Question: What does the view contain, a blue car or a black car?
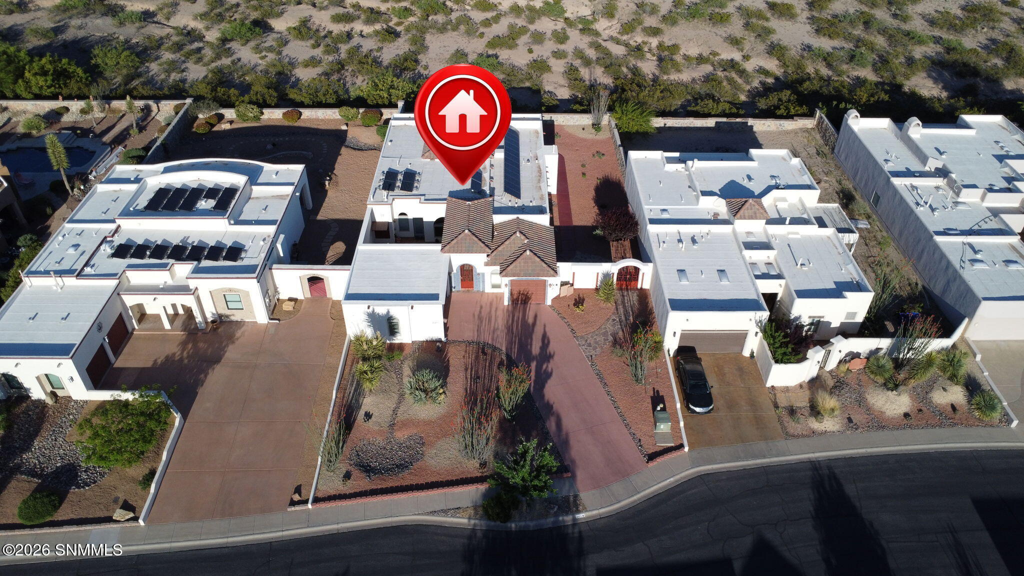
black car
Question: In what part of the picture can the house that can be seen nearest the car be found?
right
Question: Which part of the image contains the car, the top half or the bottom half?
bottom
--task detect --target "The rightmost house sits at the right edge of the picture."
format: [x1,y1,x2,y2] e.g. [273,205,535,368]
[839,109,1024,340]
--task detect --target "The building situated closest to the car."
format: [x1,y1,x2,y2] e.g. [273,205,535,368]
[626,150,873,356]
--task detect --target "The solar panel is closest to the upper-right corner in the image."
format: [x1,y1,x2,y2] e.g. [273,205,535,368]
[503,124,521,200]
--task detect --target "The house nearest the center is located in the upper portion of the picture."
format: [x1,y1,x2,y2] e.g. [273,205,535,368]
[342,114,559,343]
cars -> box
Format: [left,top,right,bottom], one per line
[678,352,714,404]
